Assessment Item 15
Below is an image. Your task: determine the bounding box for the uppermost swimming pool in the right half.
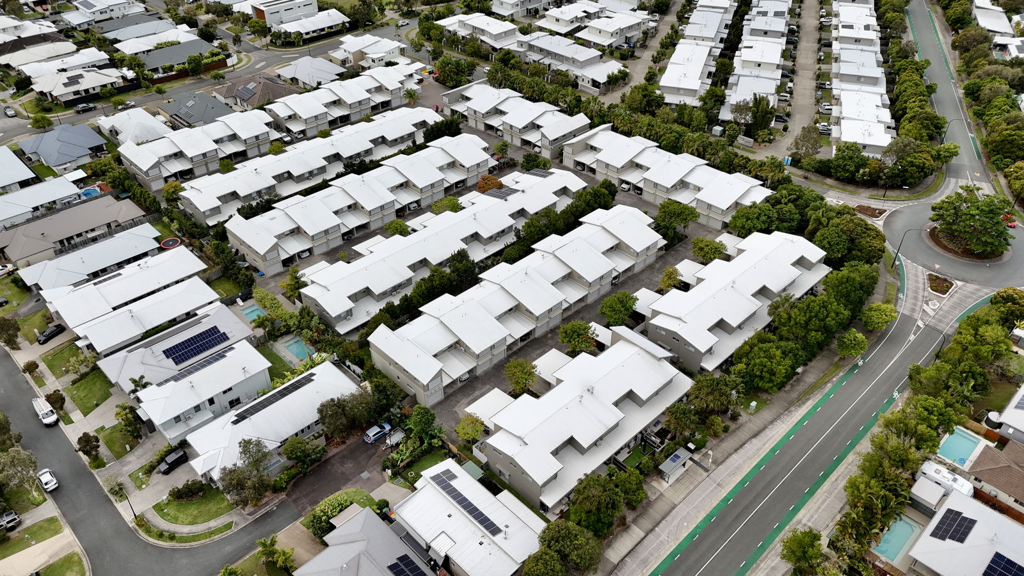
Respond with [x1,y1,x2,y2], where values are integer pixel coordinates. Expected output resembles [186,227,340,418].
[935,424,984,469]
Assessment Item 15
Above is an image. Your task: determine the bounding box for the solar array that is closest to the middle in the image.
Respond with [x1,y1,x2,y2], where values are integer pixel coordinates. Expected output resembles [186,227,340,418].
[484,186,523,200]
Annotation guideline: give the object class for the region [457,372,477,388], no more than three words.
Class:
car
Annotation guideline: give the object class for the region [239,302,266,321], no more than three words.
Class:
swimming pool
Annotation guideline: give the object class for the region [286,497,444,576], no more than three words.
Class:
house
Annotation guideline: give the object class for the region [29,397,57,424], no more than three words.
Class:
truck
